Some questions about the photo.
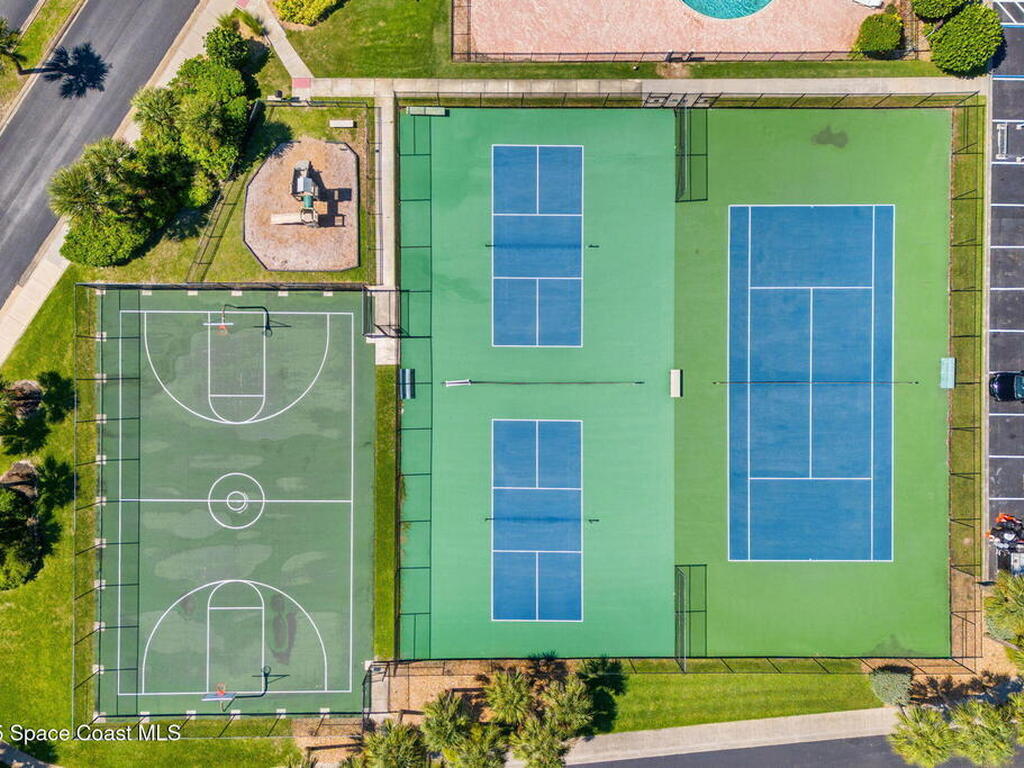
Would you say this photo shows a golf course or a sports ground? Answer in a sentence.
This image shows a sports ground.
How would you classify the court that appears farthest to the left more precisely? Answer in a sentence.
I'd say the court that appears farthest to the left is a basketball court.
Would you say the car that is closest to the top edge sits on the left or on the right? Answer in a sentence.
The car that is closest to the top edge sits on the right side.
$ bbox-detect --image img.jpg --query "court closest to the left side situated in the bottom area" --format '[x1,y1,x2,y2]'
[96,287,376,718]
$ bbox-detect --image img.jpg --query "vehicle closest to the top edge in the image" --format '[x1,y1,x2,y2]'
[988,370,1024,404]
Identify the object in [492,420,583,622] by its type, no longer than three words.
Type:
sports court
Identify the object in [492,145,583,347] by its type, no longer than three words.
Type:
sports court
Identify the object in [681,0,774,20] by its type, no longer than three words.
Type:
swimming pool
